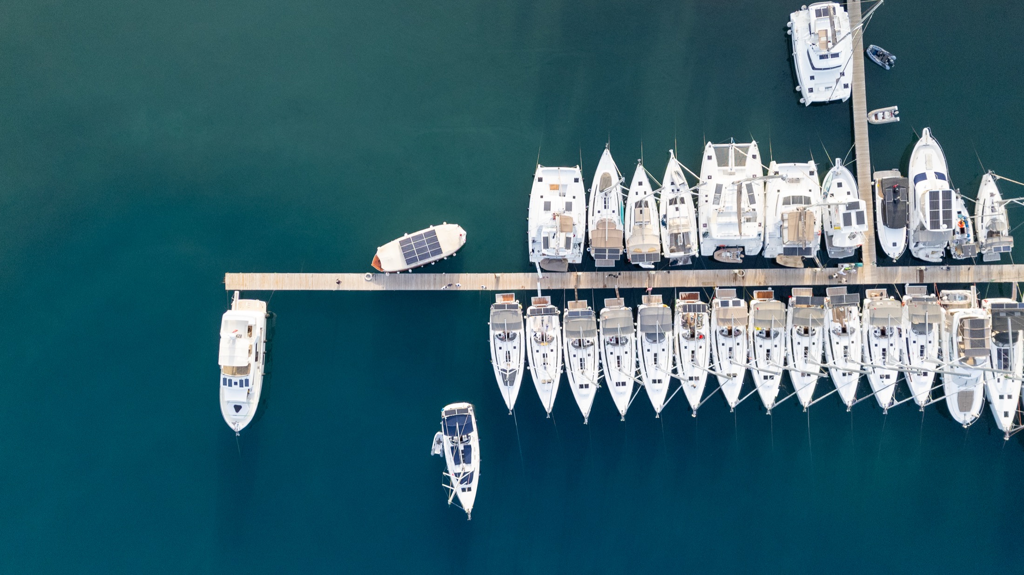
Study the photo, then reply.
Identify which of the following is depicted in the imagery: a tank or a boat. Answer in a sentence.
There is a boat in the scene.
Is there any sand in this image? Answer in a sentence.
No, there's no sand in this view.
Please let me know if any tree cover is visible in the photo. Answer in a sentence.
No, the scene doesn't show any tree cover.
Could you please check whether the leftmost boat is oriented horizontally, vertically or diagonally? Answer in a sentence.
The leftmost boat is laid out vertically.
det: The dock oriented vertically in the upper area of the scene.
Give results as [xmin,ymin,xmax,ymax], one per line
[846,0,876,267]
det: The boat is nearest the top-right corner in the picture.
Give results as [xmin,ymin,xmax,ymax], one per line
[868,44,898,69]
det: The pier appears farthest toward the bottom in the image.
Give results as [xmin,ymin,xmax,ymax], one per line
[226,264,1024,291]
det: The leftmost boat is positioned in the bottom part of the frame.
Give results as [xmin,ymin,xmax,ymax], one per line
[218,300,267,437]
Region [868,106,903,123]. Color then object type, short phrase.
white boat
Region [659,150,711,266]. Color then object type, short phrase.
white boat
